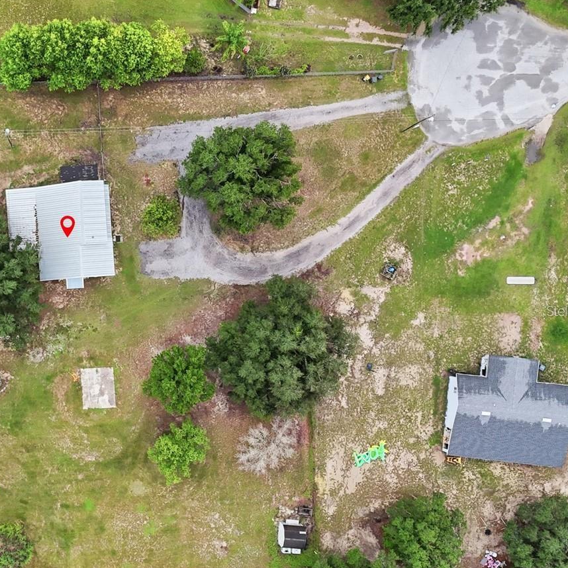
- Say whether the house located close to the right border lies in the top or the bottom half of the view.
bottom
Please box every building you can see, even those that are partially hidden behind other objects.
[438,355,568,468]
[6,180,115,289]
[281,520,307,549]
